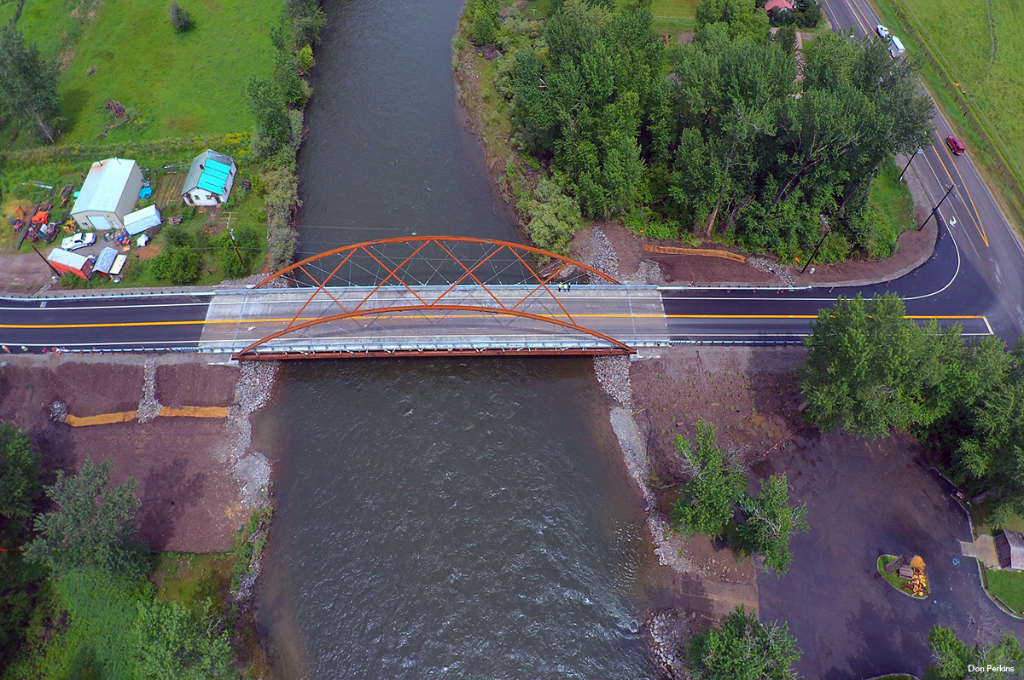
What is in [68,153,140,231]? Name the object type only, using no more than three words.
building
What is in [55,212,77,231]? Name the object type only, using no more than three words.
work vehicle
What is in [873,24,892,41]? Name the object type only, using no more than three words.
vehicle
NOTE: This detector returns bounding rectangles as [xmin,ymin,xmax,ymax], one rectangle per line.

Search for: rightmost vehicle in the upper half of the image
[947,137,974,157]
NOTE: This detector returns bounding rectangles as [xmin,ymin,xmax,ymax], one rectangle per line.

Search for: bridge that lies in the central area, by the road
[192,236,675,372]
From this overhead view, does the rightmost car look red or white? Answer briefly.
red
